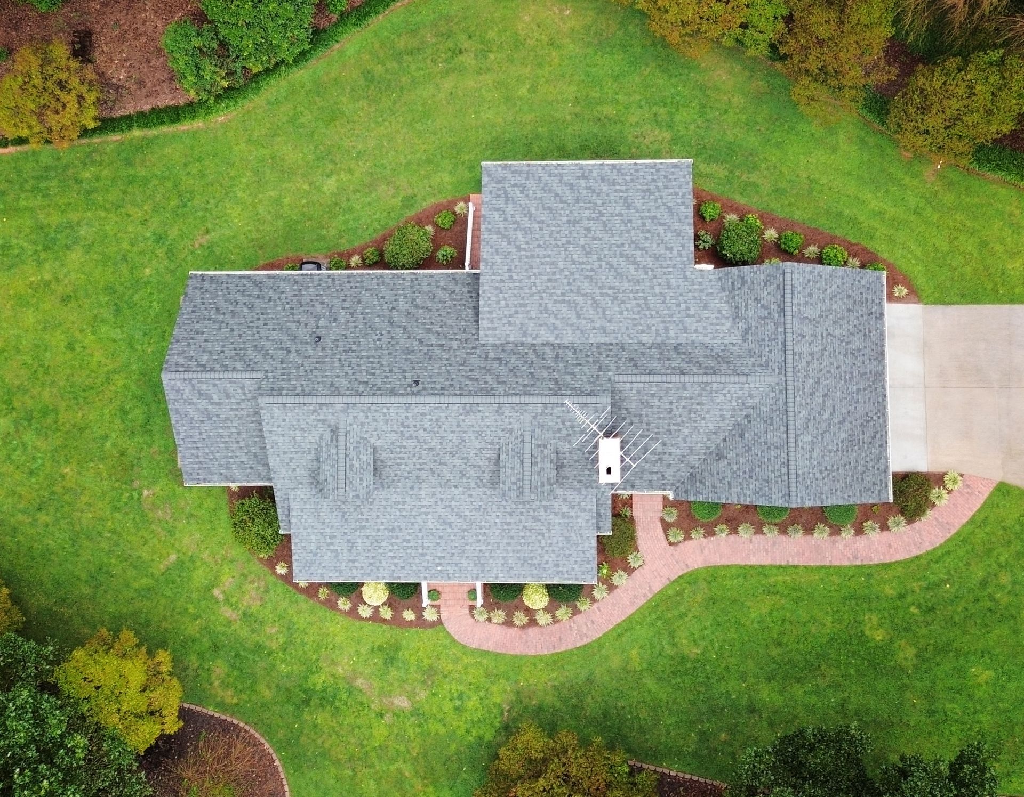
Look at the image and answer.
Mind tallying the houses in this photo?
1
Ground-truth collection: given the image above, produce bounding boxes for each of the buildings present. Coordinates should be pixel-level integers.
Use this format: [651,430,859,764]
[163,157,894,587]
